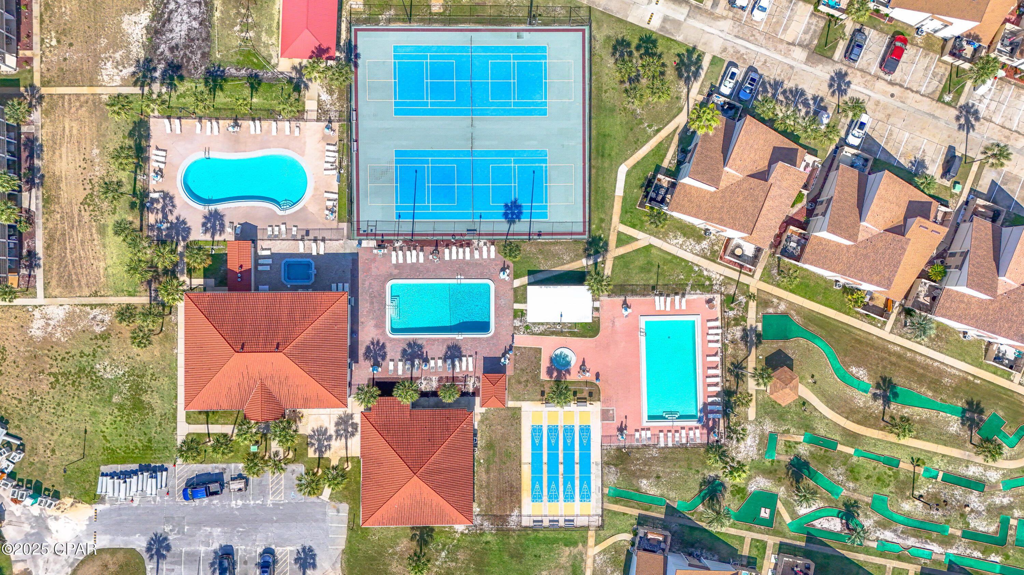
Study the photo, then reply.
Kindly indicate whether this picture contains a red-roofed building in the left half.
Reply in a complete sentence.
Yes, a red-roofed building shows up in the left half.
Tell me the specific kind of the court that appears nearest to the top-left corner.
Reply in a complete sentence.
Specifically, the court that appears nearest to the top-left corner is a tennis court.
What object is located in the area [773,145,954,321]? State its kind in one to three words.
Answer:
house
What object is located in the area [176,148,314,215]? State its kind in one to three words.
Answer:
swimming pool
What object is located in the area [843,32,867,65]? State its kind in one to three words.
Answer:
car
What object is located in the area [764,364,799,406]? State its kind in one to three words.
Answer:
gazebo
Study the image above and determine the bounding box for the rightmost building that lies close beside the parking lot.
[361,397,473,528]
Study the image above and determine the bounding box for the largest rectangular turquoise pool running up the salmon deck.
[639,314,705,429]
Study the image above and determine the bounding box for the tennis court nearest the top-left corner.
[350,25,589,239]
